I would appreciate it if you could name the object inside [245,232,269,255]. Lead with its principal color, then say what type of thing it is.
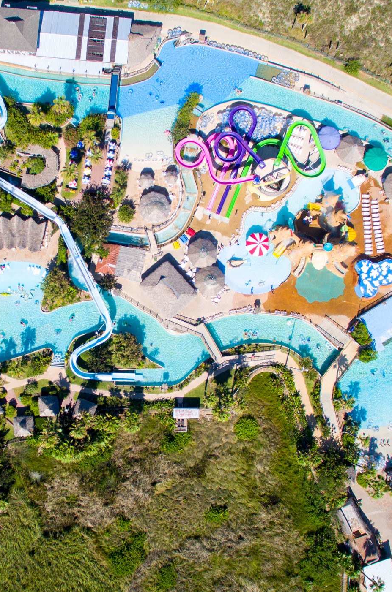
white umbrella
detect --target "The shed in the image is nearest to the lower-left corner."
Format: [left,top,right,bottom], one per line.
[13,414,37,437]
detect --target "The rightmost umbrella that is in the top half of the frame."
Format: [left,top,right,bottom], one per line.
[361,146,388,172]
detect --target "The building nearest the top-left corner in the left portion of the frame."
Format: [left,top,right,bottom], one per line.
[0,7,41,57]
